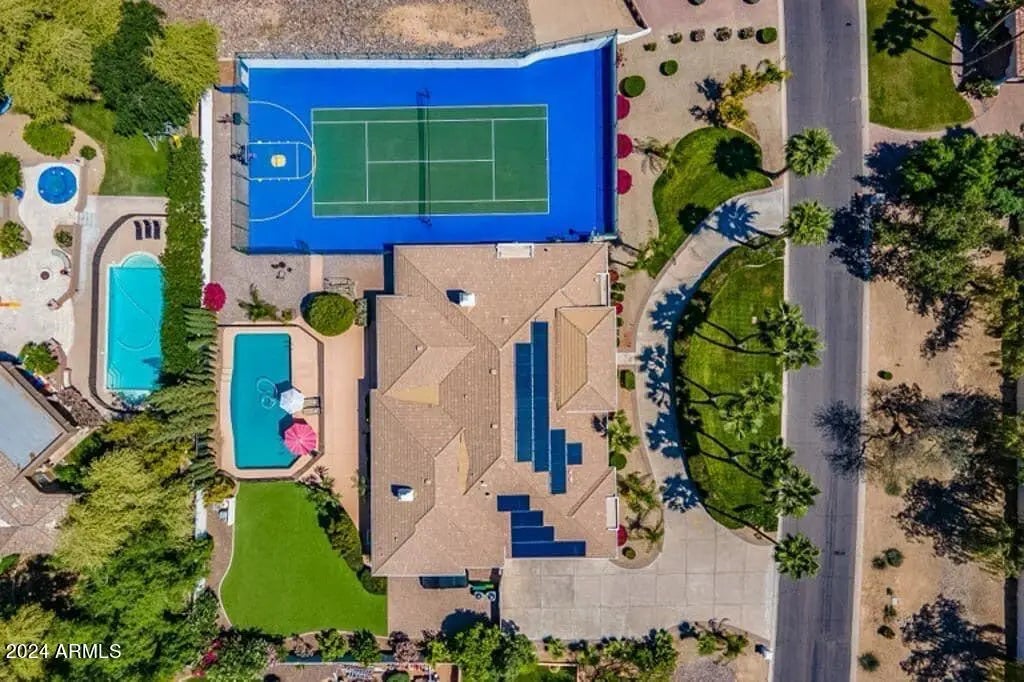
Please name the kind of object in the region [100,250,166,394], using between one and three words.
swimming pool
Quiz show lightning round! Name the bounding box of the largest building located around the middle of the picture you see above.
[370,242,618,578]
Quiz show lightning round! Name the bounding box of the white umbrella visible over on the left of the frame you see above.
[280,389,304,414]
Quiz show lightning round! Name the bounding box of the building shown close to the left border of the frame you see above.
[0,338,89,555]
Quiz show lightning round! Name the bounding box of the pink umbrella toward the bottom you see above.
[285,422,317,454]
